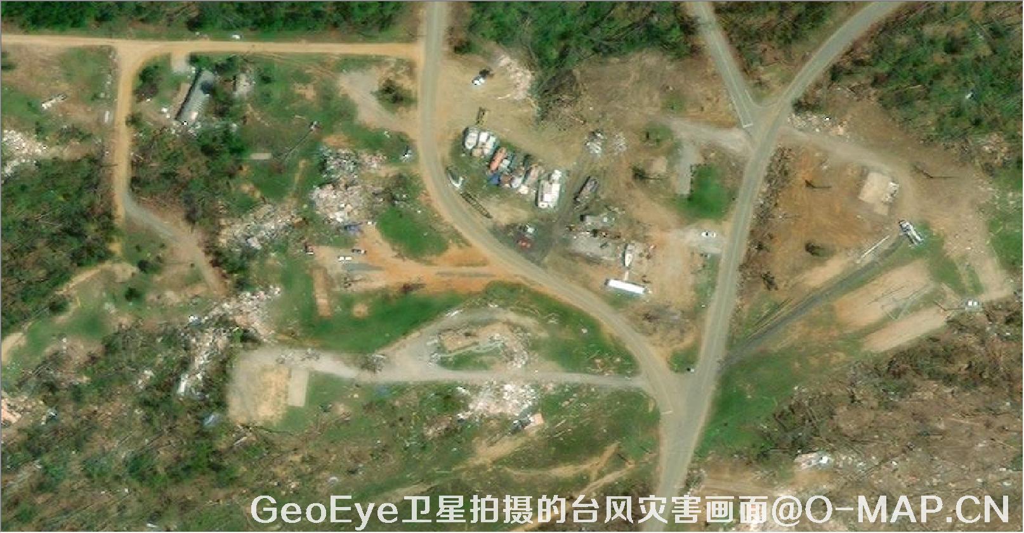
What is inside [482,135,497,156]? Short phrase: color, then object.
white camper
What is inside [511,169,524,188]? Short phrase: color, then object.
white boat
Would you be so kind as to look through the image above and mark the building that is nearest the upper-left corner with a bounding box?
[179,68,212,125]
